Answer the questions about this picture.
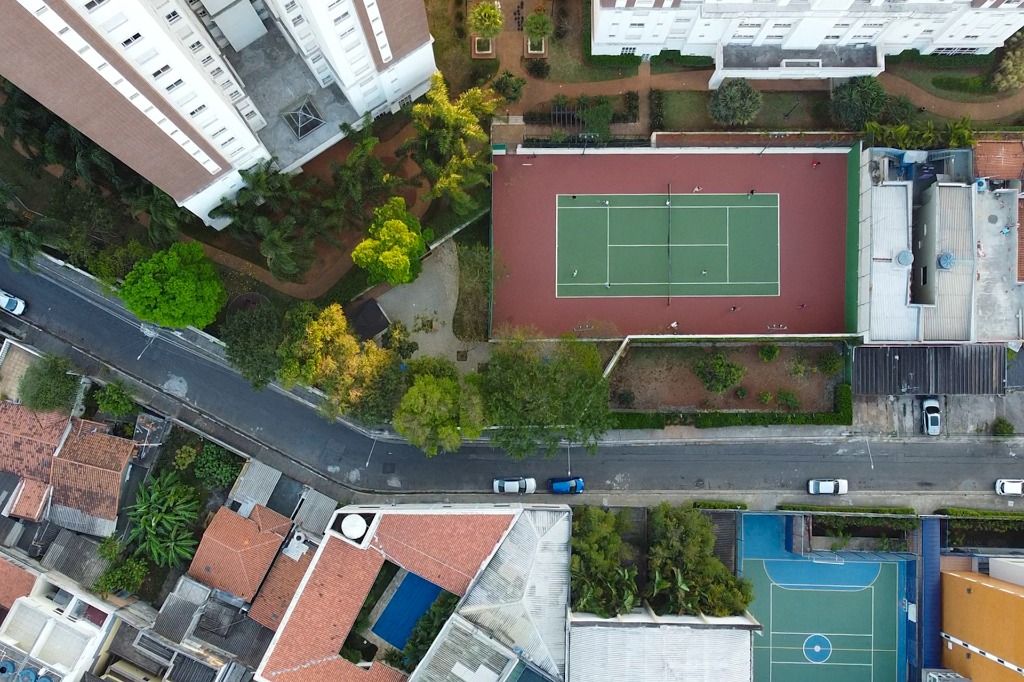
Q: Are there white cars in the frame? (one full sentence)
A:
Yes, this view includes a white car.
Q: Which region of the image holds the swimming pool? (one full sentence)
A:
Look in the bottom portion of the view to spot the swimming pool.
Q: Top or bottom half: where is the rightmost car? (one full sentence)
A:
You can find the rightmost car in the bottom half.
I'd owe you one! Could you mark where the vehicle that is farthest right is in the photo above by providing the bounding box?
[993,477,1024,497]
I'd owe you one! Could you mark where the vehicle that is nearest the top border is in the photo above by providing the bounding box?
[0,288,26,313]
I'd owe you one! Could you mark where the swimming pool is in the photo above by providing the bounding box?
[366,571,447,653]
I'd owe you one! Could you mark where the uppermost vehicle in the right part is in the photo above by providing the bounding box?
[921,399,944,436]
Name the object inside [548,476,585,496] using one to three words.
car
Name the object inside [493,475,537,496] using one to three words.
car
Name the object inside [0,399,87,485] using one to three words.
house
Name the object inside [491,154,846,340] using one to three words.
tennis court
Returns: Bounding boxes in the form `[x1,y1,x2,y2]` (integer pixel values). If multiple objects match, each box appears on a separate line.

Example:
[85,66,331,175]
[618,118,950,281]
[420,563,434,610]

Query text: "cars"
[0,288,26,313]
[807,477,847,497]
[548,476,585,496]
[993,477,1024,497]
[921,399,944,436]
[493,475,537,496]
